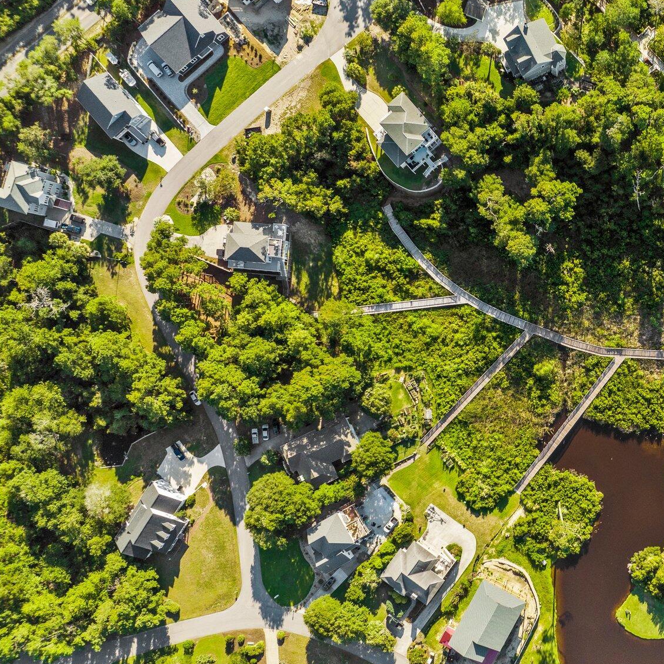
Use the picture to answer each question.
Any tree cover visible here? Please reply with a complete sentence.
Yes, there's tree cover in this view.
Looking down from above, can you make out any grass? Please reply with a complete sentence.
Yes, some grass is visible.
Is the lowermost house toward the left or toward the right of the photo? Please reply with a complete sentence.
It is on the right.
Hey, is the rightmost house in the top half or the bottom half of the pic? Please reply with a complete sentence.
The top half of the photo is where the rightmost house is.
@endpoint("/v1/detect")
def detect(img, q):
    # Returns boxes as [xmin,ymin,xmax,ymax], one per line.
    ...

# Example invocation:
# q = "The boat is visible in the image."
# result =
[117,67,132,85]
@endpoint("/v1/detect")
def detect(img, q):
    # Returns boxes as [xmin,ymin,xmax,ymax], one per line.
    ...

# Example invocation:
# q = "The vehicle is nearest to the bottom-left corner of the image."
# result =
[168,443,184,461]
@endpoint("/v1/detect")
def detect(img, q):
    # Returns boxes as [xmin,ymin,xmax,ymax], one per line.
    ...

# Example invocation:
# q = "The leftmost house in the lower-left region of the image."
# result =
[116,482,189,555]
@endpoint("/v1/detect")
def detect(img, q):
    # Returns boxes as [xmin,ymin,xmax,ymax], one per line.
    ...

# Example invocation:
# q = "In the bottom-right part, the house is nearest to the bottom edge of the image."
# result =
[440,566,527,664]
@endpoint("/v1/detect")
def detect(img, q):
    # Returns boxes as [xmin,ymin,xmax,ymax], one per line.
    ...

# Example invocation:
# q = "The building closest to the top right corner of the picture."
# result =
[500,20,566,82]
